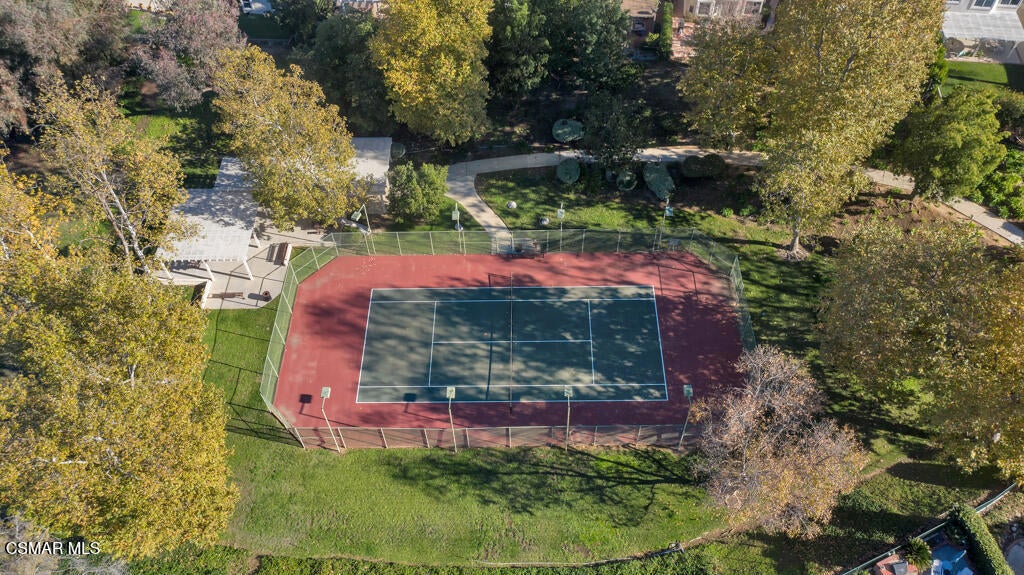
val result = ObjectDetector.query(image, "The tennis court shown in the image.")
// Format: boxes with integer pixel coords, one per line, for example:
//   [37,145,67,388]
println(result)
[270,250,754,448]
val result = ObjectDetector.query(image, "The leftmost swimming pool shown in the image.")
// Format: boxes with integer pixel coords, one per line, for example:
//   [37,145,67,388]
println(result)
[926,535,976,575]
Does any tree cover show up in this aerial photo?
Yes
